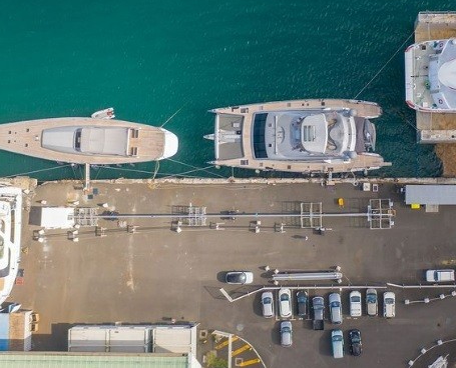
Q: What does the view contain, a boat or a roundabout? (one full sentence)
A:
There is a boat in the scene.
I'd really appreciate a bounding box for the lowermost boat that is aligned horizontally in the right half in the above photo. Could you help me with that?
[205,99,391,178]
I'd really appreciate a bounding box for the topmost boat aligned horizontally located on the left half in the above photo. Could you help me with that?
[92,105,117,117]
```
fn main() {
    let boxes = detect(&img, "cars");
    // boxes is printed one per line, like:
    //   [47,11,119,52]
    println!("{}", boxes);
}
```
[261,291,274,318]
[348,328,362,356]
[279,319,293,347]
[277,288,292,318]
[348,289,361,317]
[294,289,308,317]
[425,269,455,283]
[330,328,344,359]
[382,291,396,318]
[365,288,378,316]
[328,291,342,324]
[225,271,253,285]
